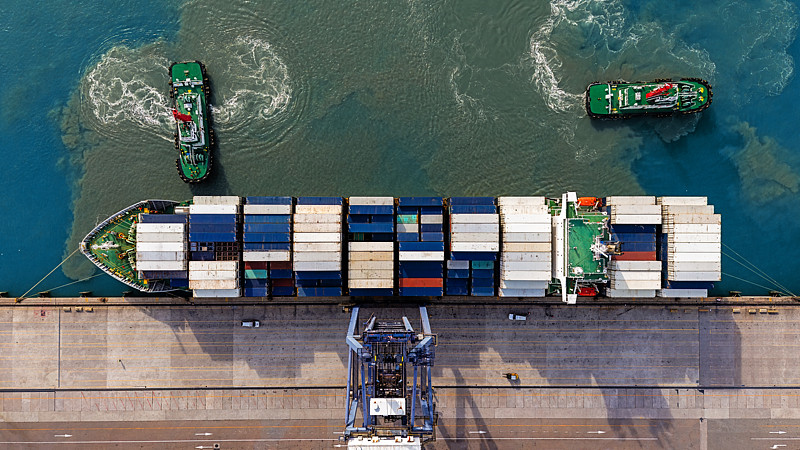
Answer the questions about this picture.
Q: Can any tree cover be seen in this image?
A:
No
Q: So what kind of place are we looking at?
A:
port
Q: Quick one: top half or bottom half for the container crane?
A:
bottom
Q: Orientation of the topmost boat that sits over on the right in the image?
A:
from side to side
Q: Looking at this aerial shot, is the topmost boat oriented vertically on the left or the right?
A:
left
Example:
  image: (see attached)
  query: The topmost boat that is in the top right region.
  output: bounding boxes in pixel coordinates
[585,77,712,120]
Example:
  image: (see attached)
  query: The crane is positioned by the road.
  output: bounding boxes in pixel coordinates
[339,305,445,450]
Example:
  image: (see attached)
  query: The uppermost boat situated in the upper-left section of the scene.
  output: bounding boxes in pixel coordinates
[168,58,214,184]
